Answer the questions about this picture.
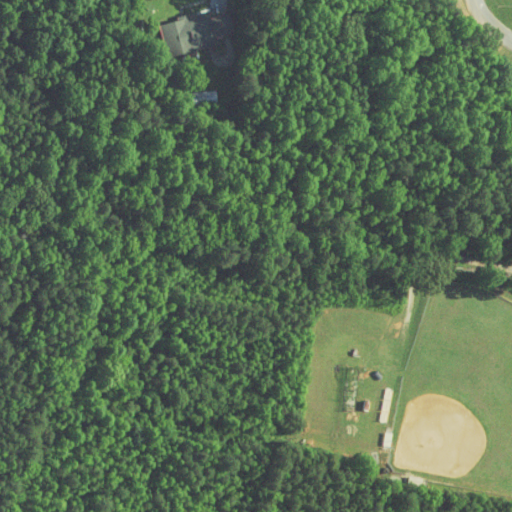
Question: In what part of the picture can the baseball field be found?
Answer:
bottom right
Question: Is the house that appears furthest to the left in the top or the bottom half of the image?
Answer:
top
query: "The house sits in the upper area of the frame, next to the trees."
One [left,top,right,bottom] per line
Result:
[160,14,200,58]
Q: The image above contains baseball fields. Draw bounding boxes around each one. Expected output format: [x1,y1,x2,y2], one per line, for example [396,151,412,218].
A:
[391,290,512,498]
